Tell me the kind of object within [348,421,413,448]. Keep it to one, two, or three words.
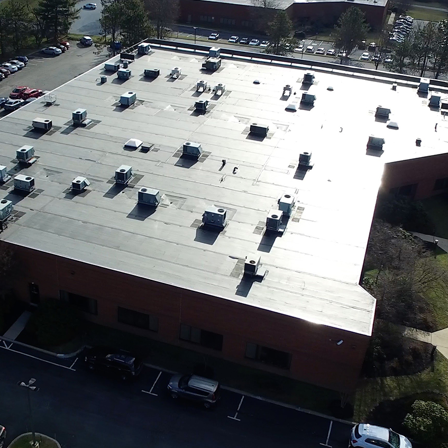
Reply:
car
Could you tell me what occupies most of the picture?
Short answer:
buildings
